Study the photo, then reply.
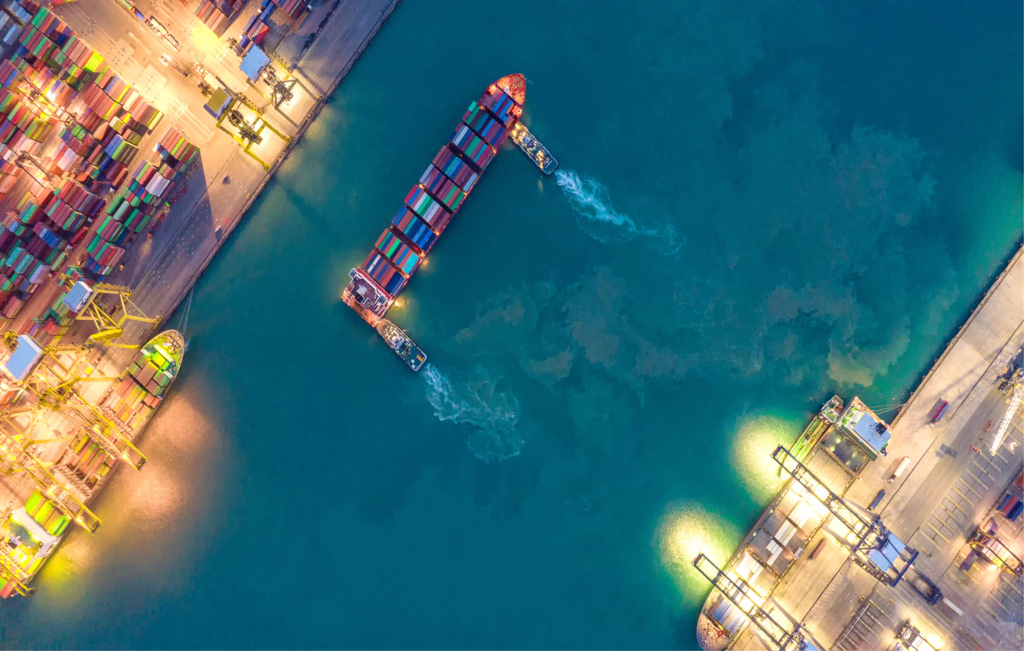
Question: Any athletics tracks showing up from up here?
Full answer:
No, no athletics track is visible in the view.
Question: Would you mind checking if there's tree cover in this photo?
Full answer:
No, no tree cover is visible.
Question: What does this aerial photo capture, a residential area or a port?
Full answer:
What you see here is a port.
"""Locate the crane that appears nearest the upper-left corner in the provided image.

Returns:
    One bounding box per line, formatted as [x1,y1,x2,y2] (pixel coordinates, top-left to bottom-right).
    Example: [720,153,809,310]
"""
[14,74,82,124]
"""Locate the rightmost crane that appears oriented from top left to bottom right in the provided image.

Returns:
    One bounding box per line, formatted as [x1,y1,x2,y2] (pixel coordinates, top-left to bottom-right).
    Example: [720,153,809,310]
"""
[956,521,1024,577]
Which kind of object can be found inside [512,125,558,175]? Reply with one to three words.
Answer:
boat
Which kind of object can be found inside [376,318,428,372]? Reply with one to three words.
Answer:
boat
